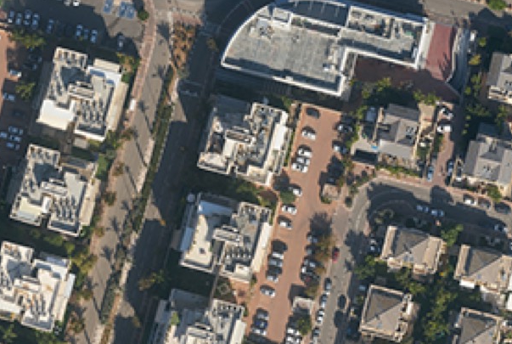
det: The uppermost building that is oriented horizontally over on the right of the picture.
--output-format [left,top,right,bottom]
[222,0,428,100]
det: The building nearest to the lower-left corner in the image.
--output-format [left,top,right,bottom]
[0,241,84,339]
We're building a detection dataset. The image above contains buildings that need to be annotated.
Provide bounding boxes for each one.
[380,225,446,281]
[172,193,279,292]
[0,241,84,339]
[293,295,315,314]
[147,289,254,344]
[449,307,505,344]
[461,124,512,195]
[187,93,293,194]
[485,58,512,109]
[369,103,423,172]
[361,286,418,344]
[322,184,341,201]
[222,0,428,100]
[35,46,135,148]
[457,243,512,299]
[10,144,109,244]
